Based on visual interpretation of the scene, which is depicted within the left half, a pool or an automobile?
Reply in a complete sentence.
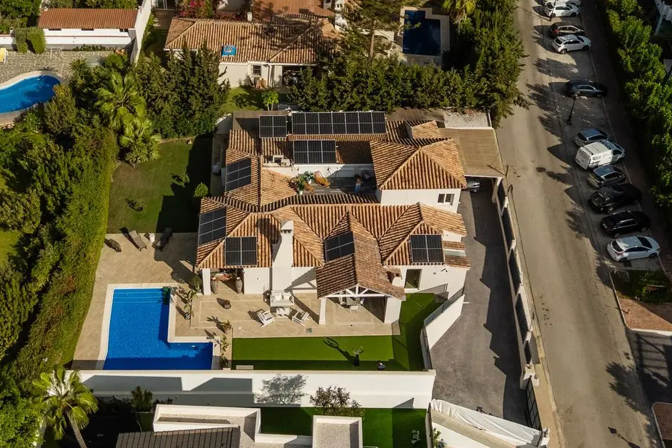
You can see a pool within the left half.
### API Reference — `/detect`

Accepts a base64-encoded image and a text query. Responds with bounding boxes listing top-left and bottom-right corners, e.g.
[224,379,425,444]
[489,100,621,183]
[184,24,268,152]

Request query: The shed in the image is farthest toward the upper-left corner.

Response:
[39,8,144,45]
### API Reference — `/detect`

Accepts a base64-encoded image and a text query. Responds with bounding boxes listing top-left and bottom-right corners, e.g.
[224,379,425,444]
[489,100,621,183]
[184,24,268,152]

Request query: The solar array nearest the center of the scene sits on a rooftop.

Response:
[325,232,355,263]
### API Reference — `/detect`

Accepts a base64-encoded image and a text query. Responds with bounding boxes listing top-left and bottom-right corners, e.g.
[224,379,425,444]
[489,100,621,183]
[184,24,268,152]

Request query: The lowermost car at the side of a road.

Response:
[605,236,665,263]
